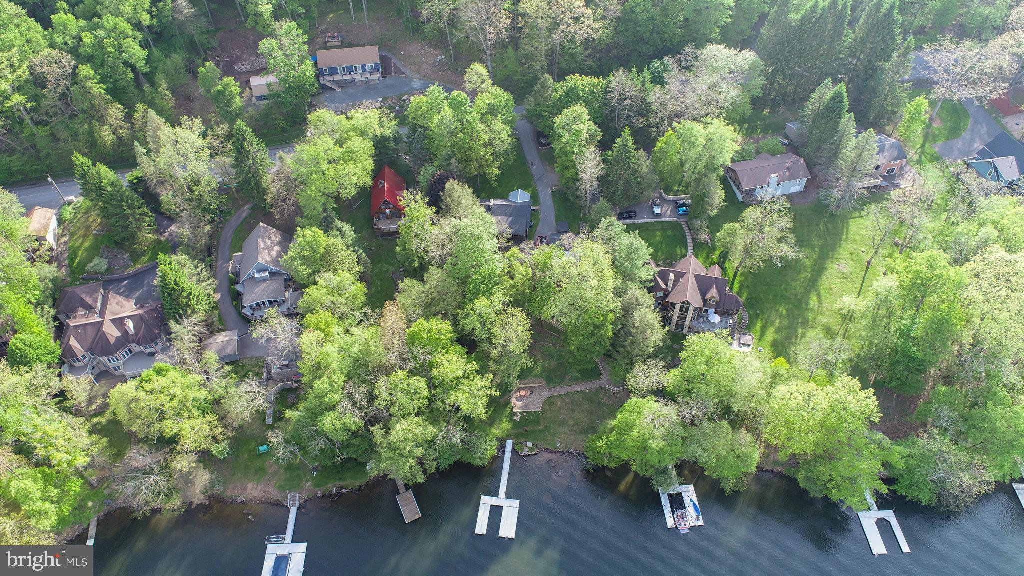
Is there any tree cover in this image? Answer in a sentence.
Yes, some tree cover is visible.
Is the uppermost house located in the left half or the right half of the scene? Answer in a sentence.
The uppermost house sits on the left side.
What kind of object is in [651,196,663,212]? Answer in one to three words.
vehicle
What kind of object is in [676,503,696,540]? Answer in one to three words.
boat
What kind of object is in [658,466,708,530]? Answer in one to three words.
pier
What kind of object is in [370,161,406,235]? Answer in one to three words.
house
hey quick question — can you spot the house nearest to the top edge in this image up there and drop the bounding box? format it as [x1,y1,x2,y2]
[317,46,383,91]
